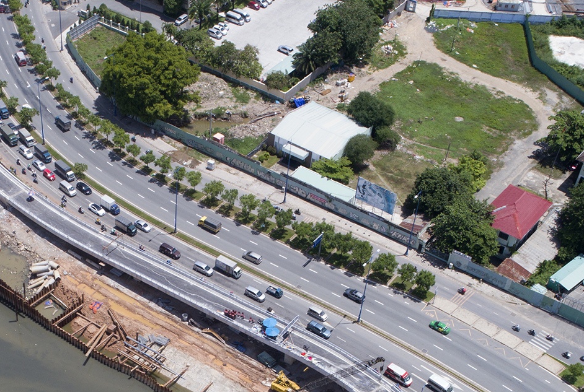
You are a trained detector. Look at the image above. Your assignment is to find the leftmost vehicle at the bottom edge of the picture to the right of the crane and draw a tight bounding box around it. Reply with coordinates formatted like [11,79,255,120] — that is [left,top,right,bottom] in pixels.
[384,363,411,388]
